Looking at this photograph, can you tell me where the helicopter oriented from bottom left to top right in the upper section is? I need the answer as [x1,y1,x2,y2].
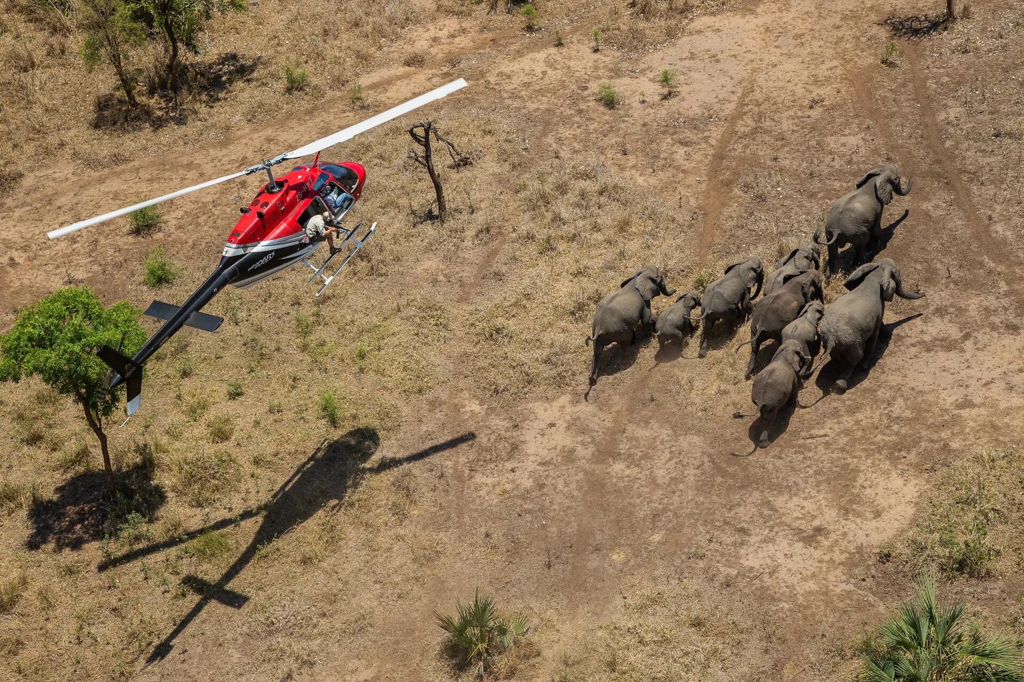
[47,83,470,435]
